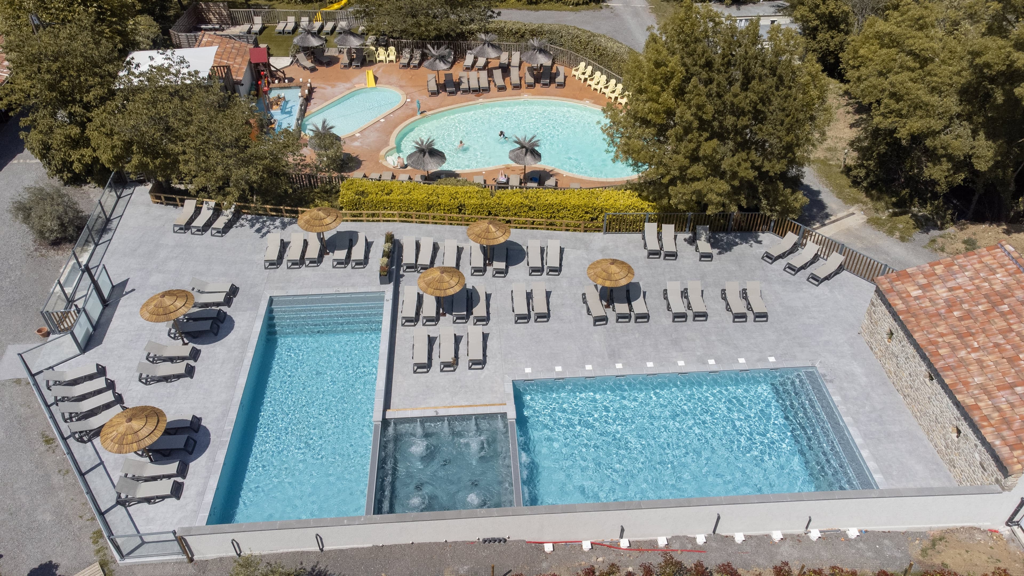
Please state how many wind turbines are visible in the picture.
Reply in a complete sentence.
The count of wind turbines is 0.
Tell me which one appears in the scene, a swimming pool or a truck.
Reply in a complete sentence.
Visible in the photo is a swimming pool.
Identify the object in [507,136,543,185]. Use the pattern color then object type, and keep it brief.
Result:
gray umbrella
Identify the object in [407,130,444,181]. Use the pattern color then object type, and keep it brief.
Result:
gray umbrella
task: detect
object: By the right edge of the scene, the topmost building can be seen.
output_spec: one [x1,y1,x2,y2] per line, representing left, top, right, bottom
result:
[861,237,1024,527]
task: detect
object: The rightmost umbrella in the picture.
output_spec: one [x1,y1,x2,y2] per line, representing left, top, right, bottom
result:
[586,261,636,310]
